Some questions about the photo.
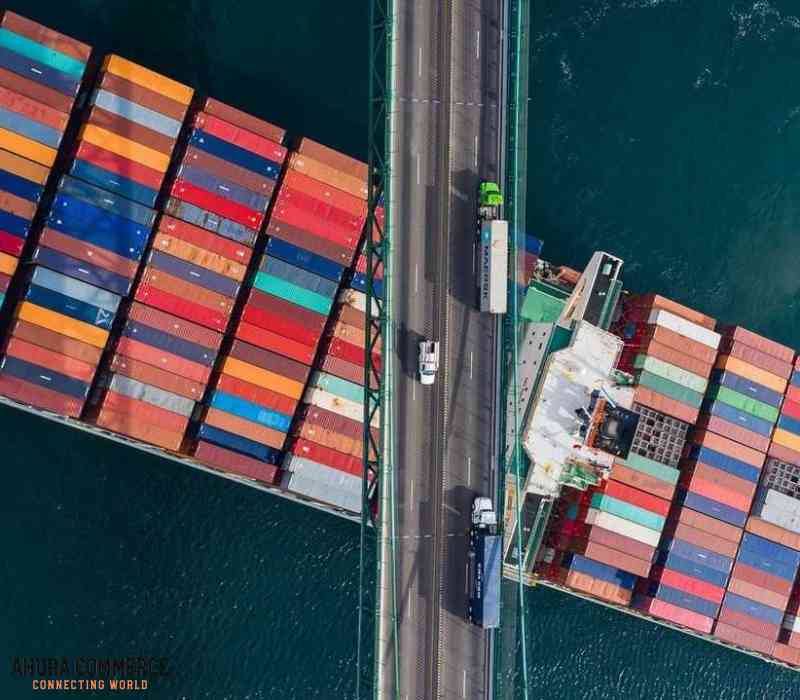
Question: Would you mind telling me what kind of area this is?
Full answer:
The area seen from above is a port.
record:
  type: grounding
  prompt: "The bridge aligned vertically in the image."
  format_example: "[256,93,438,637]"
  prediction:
[359,0,531,700]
